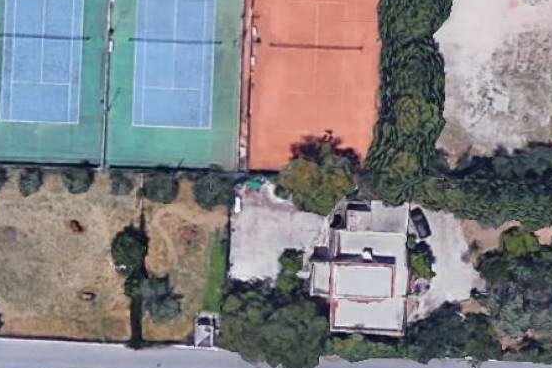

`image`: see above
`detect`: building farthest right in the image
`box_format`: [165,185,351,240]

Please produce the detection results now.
[305,201,408,335]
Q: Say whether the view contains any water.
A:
No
